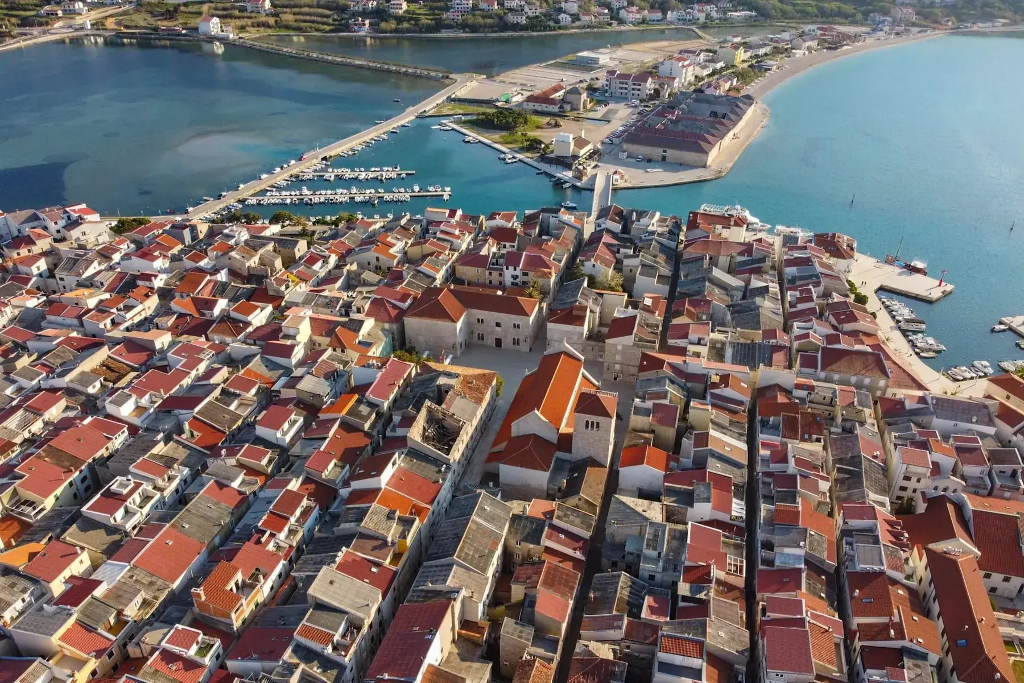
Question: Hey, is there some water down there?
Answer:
Yes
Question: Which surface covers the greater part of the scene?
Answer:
buildings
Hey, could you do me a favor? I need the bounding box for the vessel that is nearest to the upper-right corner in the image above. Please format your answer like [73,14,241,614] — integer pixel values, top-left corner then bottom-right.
[884,236,930,273]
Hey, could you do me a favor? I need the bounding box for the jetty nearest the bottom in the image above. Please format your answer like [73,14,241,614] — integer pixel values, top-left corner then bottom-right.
[999,315,1024,340]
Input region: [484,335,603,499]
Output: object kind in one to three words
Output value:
building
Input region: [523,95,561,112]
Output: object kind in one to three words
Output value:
house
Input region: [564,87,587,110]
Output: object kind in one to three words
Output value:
house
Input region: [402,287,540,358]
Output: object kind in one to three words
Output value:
building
